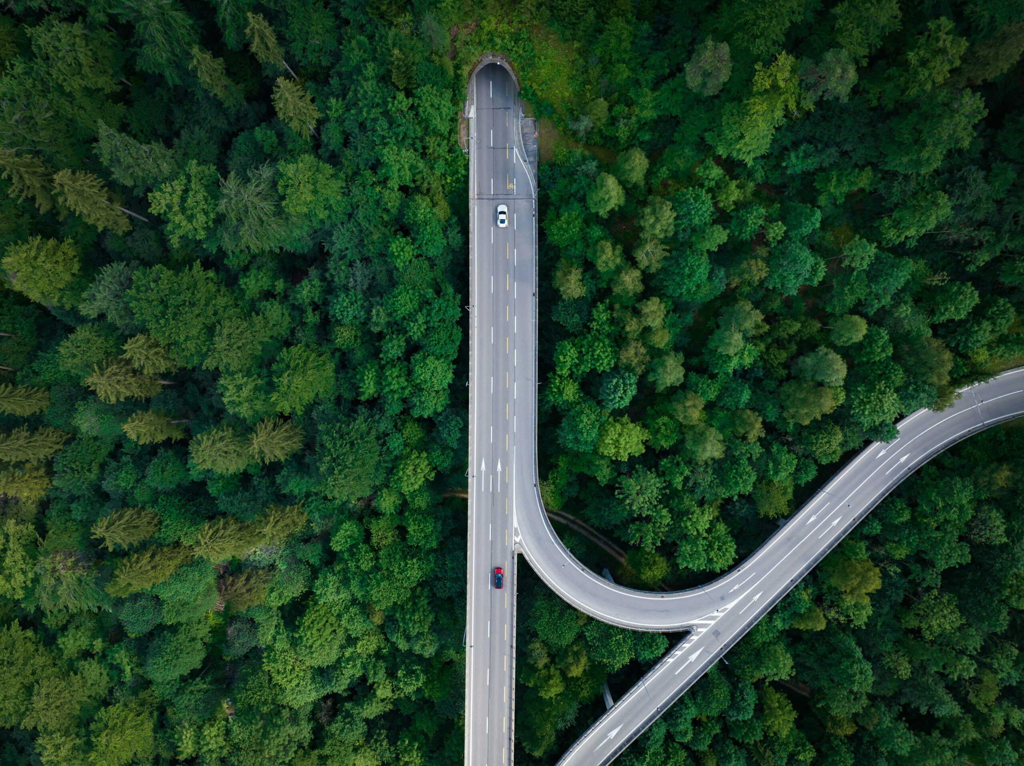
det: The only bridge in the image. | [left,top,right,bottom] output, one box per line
[464,104,1024,766]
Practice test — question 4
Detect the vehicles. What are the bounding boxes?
[498,203,507,227]
[494,568,504,590]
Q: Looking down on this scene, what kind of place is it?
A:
forest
